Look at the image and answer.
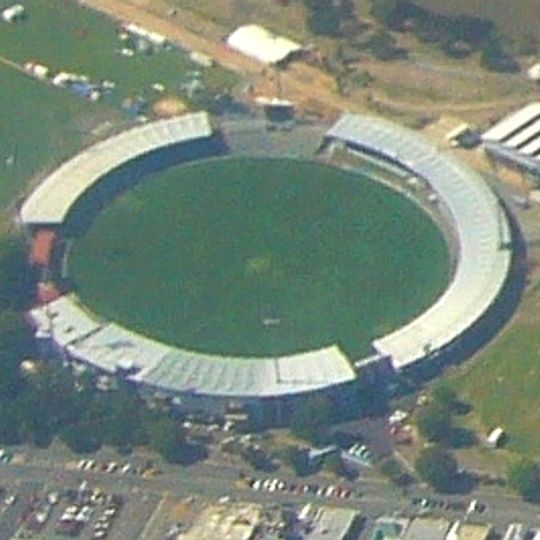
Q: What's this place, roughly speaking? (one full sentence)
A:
This looks like a sports ground.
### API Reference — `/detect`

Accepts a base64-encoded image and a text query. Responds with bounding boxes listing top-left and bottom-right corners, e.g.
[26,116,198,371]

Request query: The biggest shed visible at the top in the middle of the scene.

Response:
[227,26,301,67]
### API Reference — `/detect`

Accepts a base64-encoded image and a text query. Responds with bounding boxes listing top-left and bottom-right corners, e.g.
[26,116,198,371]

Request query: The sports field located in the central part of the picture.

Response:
[54,152,456,377]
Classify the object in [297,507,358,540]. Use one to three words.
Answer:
building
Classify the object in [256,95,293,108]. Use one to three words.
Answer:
shed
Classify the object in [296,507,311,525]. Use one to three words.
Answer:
vehicle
